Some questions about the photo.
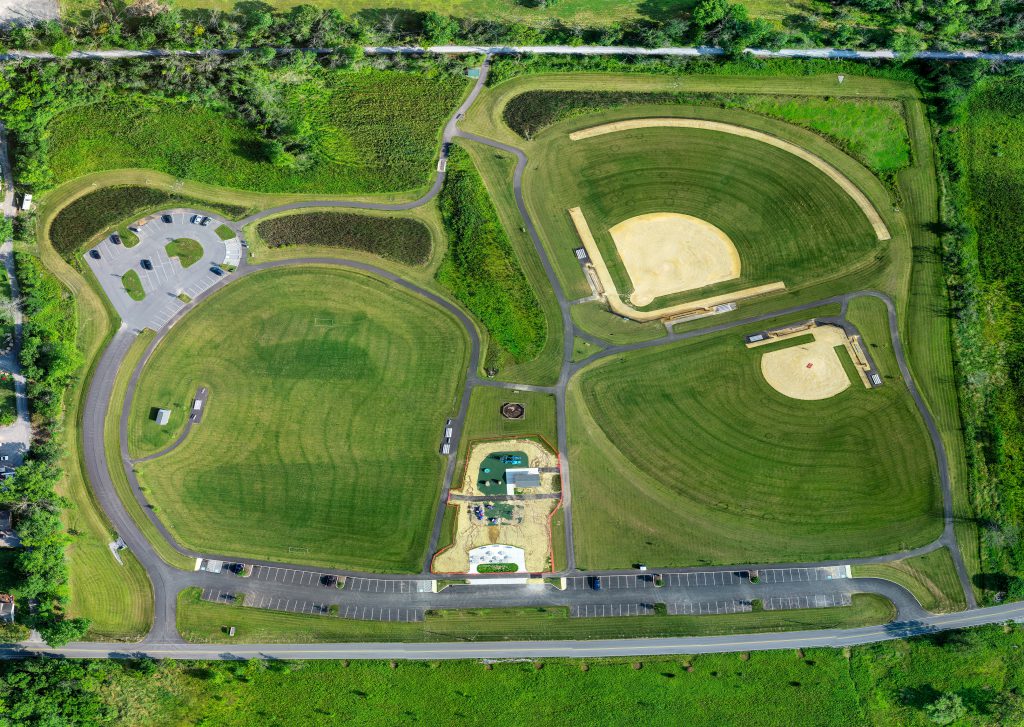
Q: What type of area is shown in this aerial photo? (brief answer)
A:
sports ground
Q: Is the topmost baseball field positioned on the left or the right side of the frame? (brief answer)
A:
right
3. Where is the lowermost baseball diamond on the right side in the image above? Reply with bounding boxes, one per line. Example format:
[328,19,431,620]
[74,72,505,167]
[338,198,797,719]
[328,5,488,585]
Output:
[580,315,943,547]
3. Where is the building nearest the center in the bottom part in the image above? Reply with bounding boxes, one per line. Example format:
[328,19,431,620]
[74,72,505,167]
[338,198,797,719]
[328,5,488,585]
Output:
[513,472,541,488]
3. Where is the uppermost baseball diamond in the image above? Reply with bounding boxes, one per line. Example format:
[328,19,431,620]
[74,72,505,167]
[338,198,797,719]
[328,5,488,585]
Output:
[545,115,897,325]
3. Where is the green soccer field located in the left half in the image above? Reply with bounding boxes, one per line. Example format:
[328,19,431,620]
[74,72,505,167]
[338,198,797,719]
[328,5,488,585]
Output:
[128,266,471,570]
